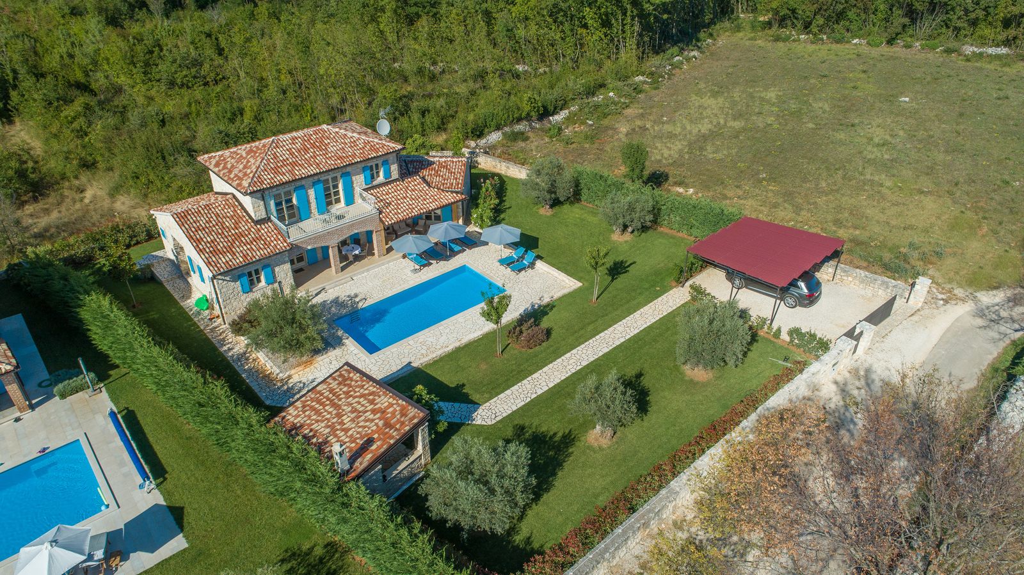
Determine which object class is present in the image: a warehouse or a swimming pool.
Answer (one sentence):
There is a swimming pool in the scene.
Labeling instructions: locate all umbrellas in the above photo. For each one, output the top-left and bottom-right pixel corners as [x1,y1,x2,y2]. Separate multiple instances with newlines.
[21,532,94,575]
[424,217,469,257]
[480,220,523,258]
[389,231,435,274]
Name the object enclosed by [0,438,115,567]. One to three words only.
swimming pool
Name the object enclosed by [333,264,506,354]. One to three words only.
swimming pool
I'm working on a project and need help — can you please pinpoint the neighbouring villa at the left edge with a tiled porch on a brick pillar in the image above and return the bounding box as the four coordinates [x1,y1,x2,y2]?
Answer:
[0,329,34,412]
